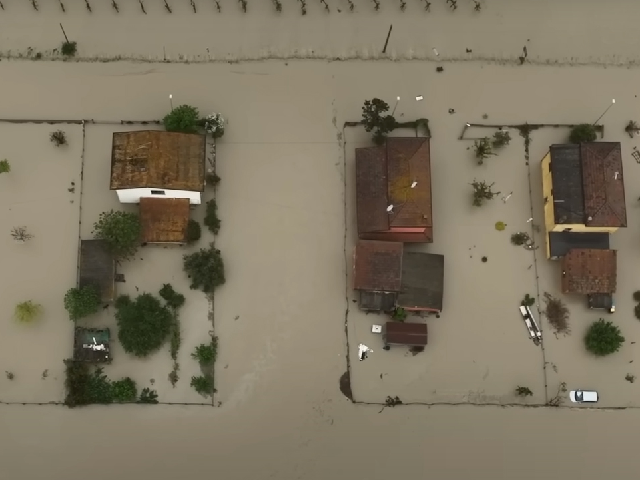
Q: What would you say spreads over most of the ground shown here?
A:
water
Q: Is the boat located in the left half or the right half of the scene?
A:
right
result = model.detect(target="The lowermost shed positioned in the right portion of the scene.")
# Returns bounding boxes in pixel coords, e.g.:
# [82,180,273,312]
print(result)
[385,322,428,347]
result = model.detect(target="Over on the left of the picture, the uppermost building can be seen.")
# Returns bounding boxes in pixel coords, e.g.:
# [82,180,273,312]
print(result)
[109,130,207,245]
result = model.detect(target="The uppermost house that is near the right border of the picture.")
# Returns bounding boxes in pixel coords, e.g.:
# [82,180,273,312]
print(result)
[542,142,627,262]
